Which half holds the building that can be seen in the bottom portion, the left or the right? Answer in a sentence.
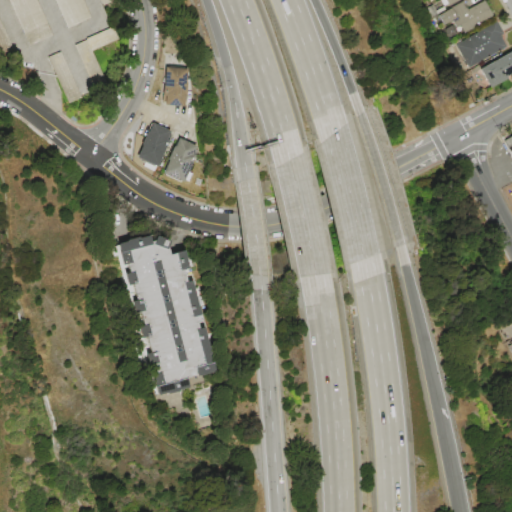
You can find the building that can be seen in the bottom portion on the left side of the picture.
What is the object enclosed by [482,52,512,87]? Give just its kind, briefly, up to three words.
house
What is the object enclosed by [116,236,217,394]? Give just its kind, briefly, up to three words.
building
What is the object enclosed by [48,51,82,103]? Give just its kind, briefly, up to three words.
building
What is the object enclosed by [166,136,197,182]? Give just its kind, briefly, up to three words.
house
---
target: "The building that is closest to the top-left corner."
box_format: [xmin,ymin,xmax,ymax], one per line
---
[12,0,52,44]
